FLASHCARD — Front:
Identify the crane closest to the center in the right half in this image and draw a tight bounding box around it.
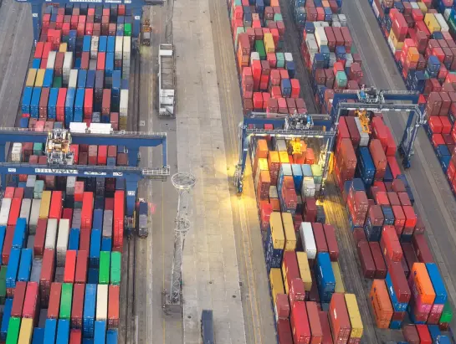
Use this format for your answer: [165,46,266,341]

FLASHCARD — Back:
[233,106,340,192]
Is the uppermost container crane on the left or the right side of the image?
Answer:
left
